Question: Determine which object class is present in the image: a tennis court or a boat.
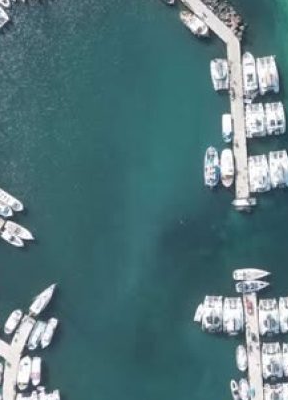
boat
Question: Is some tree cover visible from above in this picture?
No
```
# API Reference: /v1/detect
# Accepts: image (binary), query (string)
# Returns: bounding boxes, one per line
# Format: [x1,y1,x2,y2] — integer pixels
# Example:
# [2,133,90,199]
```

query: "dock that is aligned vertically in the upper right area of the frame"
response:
[180,0,250,199]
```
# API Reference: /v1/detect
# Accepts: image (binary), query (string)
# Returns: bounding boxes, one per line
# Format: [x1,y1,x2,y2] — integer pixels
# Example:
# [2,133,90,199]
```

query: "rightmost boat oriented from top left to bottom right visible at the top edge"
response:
[179,9,209,38]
